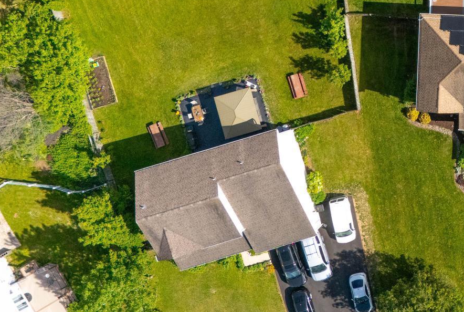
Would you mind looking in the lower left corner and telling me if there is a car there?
No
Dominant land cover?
grass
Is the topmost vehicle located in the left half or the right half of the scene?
right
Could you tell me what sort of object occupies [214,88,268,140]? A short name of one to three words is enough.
gazebo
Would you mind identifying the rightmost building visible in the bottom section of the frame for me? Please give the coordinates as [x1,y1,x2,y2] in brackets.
[133,128,319,277]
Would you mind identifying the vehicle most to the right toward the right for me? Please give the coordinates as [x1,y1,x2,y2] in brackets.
[350,271,374,312]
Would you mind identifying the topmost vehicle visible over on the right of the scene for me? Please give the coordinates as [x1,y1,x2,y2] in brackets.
[329,194,357,245]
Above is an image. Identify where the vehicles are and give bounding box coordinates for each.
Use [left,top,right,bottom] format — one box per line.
[276,242,307,288]
[350,271,374,312]
[292,288,316,312]
[329,194,357,245]
[301,230,333,282]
